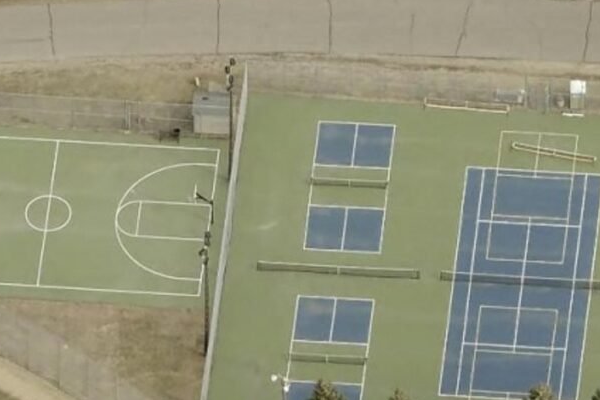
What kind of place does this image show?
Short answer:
sports ground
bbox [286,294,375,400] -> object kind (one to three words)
sports court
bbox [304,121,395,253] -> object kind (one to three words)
sports court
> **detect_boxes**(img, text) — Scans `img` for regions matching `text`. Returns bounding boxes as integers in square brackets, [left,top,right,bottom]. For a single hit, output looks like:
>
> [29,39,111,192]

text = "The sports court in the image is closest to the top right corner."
[486,131,578,263]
